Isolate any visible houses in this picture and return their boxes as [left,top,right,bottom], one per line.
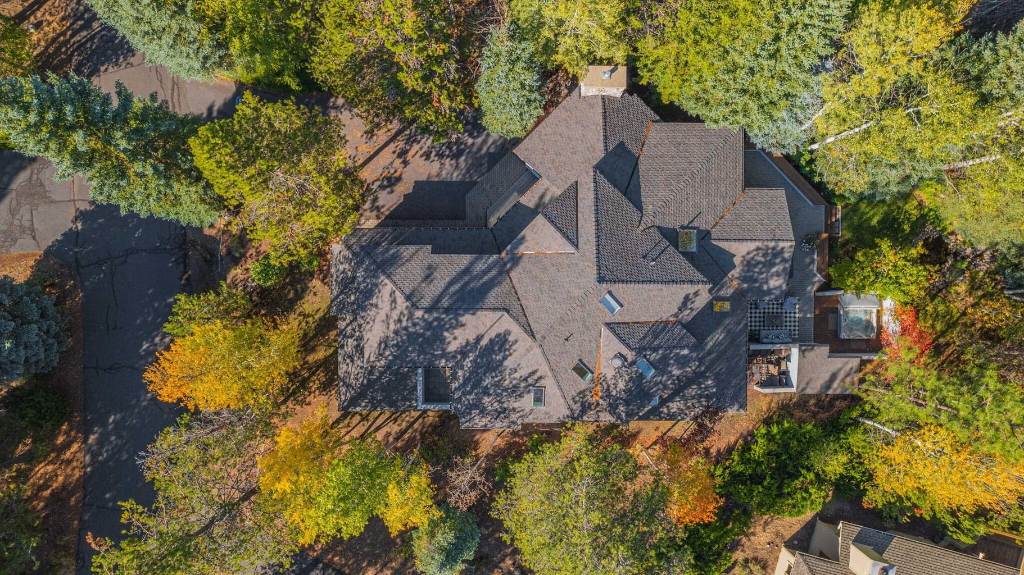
[773,515,1022,575]
[329,67,794,431]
